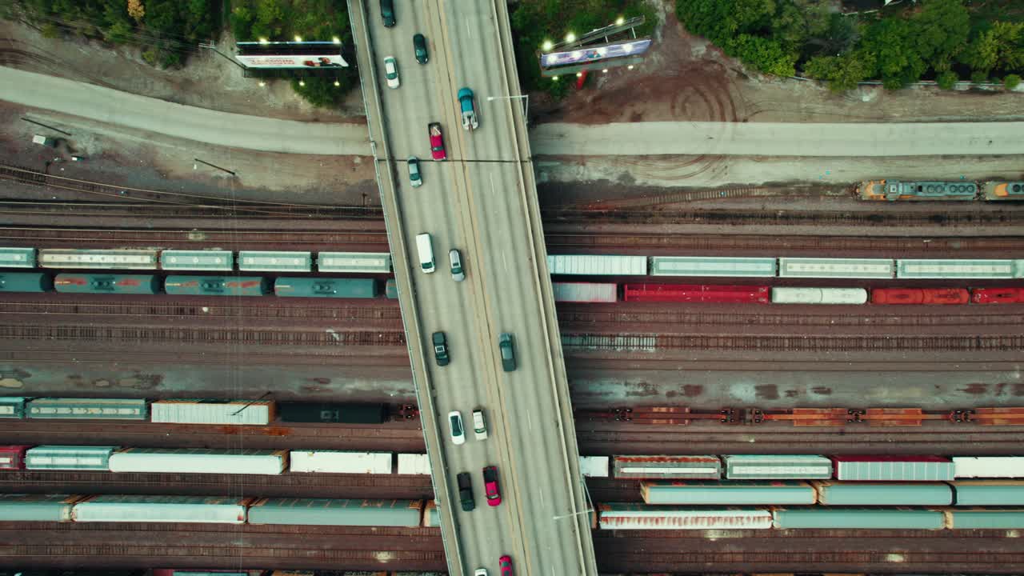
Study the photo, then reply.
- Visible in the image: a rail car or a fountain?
rail car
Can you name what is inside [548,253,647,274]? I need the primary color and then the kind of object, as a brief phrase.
white rail car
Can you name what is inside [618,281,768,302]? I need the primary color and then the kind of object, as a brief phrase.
red rail car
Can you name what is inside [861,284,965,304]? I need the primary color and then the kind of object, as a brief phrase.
red rail car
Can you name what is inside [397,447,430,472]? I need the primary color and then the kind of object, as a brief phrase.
white rail car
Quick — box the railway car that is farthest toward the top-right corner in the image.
[972,179,1024,199]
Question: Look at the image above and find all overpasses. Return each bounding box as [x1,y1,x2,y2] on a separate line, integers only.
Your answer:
[346,0,599,576]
